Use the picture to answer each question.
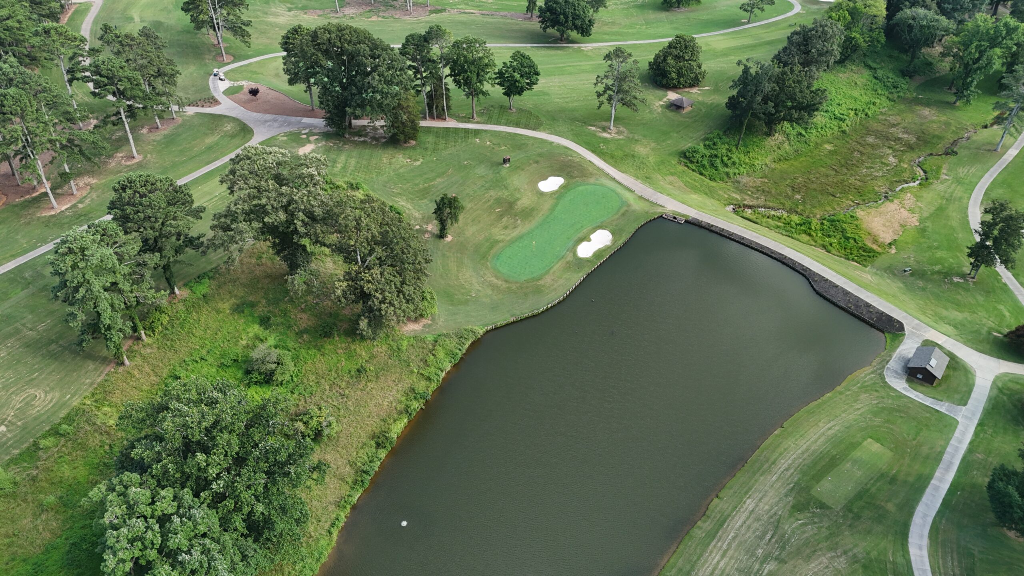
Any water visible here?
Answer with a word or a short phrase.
Yes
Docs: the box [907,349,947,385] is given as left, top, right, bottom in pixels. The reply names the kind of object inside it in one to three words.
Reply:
shed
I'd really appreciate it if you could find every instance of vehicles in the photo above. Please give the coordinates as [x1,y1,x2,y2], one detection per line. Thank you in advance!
[217,72,226,82]
[212,68,218,77]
